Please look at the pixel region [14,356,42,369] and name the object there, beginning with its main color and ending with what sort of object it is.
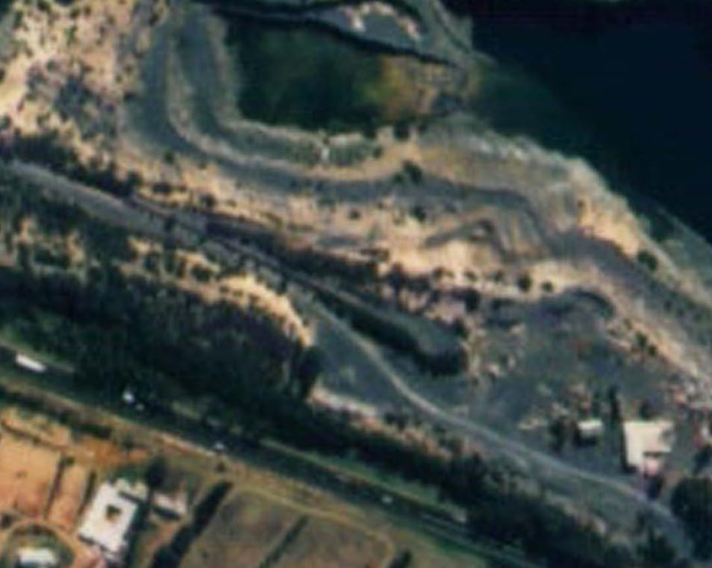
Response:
white vehicle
